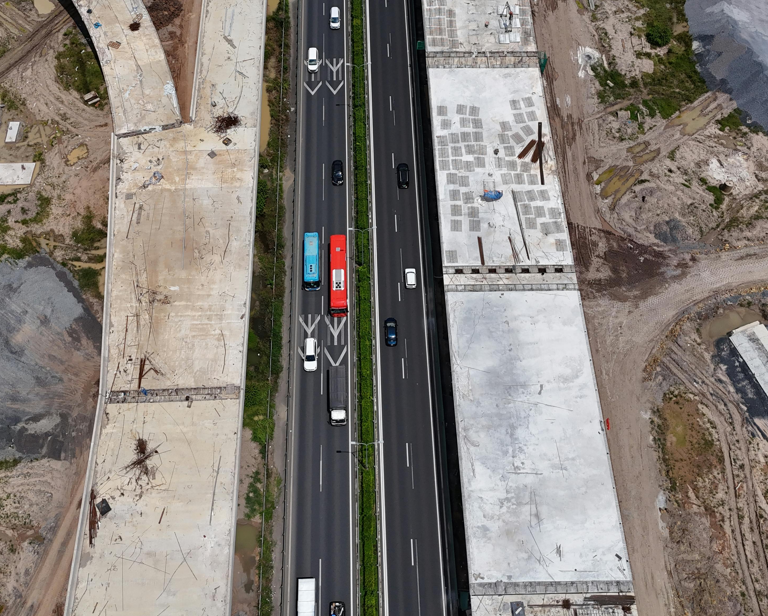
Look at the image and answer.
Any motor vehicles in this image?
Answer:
Yes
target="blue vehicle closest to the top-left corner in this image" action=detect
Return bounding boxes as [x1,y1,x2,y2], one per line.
[301,233,321,289]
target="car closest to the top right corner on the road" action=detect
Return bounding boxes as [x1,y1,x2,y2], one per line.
[396,164,409,189]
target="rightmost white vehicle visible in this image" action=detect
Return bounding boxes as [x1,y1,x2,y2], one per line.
[403,268,417,290]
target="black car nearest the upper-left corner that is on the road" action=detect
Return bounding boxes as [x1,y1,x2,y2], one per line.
[330,161,344,185]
